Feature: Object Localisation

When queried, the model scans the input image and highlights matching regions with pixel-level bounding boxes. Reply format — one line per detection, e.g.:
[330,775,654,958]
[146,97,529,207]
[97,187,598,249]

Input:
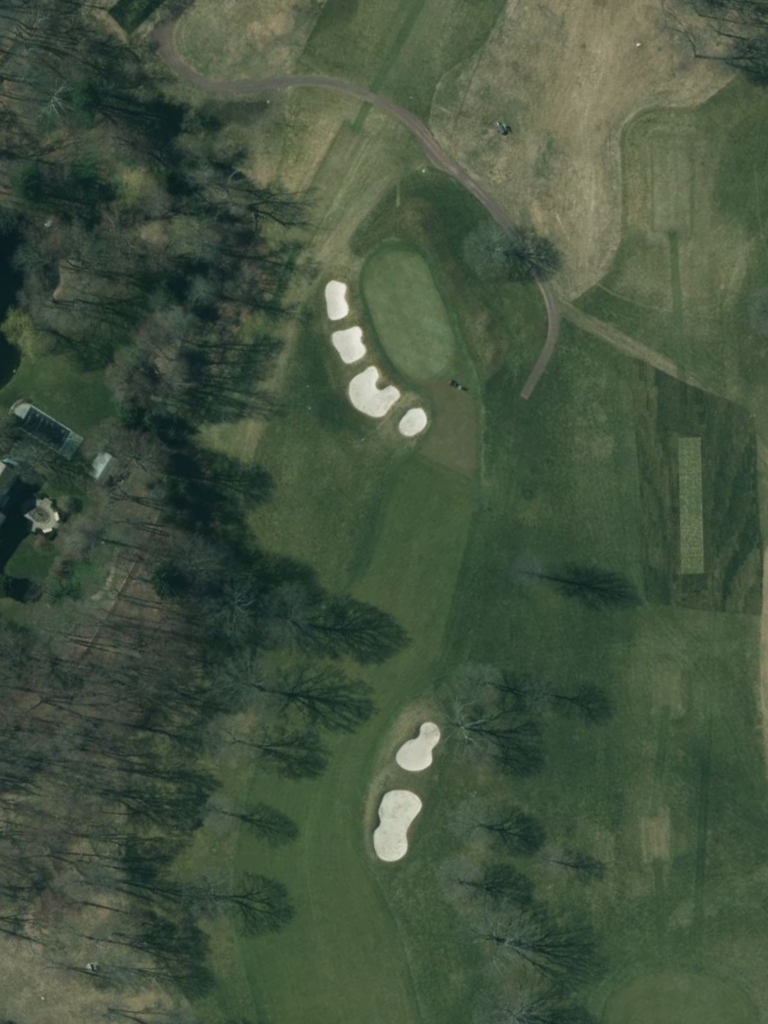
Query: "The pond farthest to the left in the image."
[0,225,21,389]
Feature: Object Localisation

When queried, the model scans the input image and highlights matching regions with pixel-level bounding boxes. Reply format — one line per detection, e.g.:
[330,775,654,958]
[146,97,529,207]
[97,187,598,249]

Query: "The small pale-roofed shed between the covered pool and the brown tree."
[87,452,113,480]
